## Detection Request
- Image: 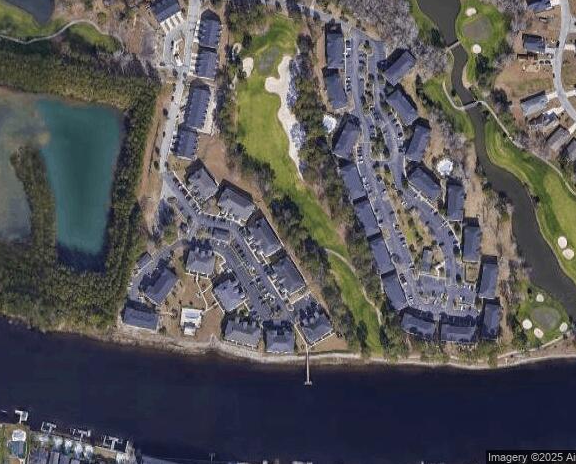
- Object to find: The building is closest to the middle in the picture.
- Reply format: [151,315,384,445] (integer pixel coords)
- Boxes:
[247,216,283,255]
